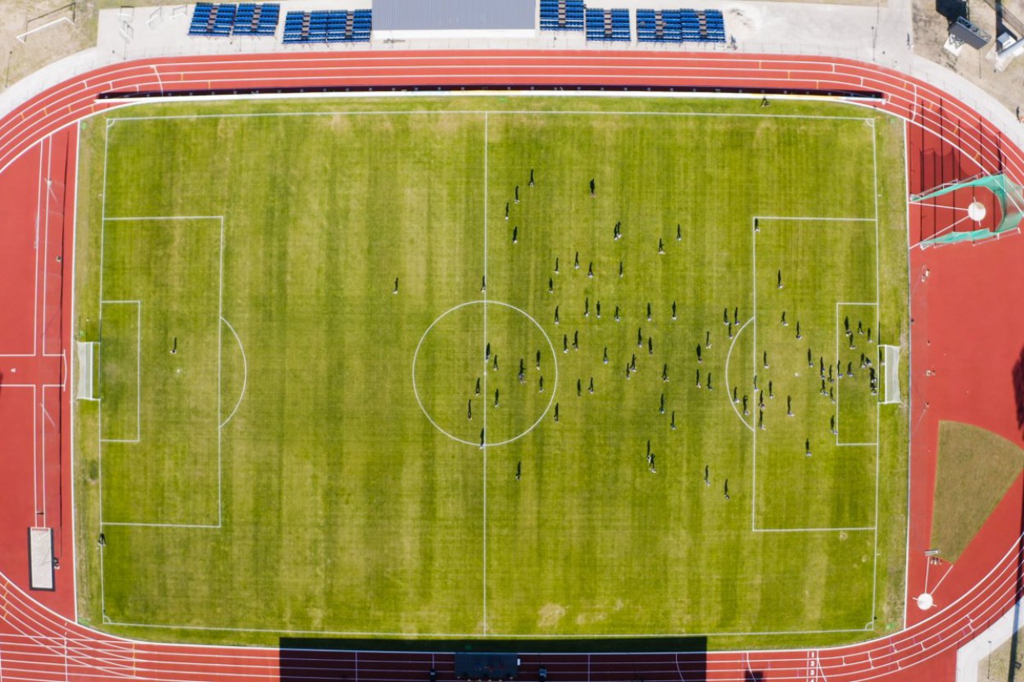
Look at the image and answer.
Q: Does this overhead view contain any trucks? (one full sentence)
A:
No, the scene contains no truck.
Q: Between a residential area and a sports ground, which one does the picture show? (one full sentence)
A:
The area seen from above is a sports ground.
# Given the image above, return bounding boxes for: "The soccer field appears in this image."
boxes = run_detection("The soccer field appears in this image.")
[71,95,911,653]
